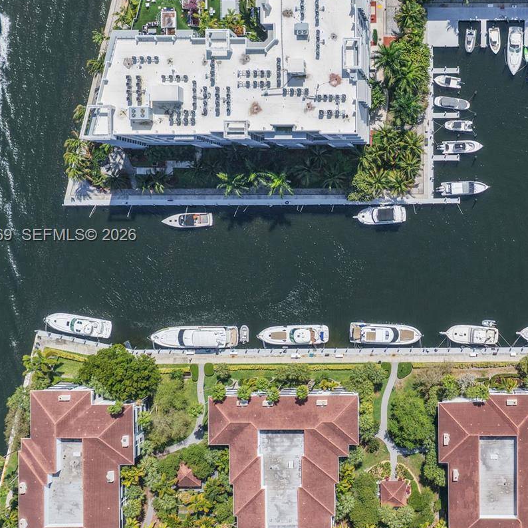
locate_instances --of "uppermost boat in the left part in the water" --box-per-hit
[163,213,215,228]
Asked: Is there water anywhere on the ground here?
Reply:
Yes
